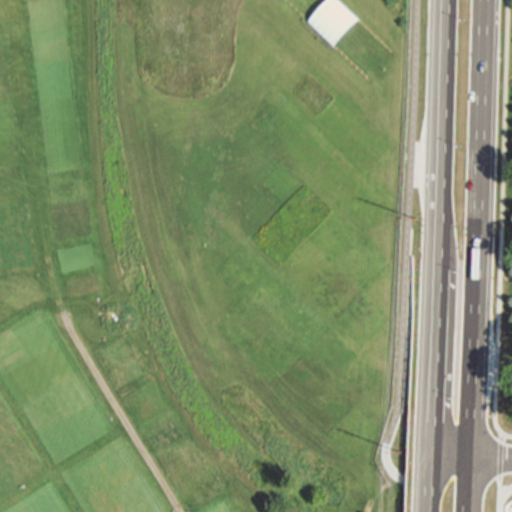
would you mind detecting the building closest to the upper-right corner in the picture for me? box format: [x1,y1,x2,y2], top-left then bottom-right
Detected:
[308,0,359,47]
